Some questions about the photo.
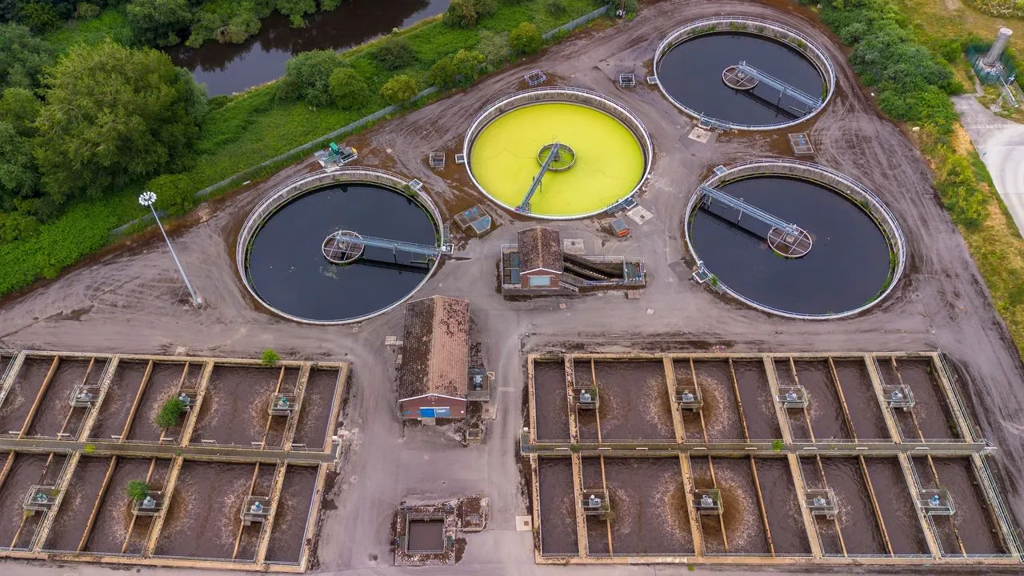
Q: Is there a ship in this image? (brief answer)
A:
No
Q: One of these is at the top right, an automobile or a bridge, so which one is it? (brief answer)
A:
bridge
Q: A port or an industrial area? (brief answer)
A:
industrial area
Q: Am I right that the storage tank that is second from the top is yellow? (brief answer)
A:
Yes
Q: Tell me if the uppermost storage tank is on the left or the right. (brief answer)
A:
right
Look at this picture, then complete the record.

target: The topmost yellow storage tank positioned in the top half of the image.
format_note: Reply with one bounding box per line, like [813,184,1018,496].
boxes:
[462,85,654,221]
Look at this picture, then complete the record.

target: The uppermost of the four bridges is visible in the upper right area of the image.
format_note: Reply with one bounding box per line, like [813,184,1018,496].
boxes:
[736,60,829,116]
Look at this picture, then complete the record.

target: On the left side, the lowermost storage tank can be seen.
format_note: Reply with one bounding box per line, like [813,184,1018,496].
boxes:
[235,166,450,326]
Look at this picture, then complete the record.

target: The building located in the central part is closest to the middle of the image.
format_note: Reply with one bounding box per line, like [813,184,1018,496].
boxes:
[502,228,565,296]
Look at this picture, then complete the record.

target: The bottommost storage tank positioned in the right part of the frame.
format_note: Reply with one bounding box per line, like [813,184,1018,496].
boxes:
[686,159,906,322]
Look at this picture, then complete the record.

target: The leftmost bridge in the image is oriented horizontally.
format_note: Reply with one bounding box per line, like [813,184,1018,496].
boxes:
[337,233,450,270]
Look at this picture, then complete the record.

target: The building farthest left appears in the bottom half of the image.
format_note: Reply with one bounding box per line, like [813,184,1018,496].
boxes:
[394,295,469,427]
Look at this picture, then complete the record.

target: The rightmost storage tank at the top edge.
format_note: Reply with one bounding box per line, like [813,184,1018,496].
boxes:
[654,16,836,132]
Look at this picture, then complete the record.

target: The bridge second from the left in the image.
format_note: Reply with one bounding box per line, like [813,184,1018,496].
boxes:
[515,145,560,219]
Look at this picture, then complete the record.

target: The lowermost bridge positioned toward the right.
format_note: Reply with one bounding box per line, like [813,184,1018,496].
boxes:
[691,184,798,237]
